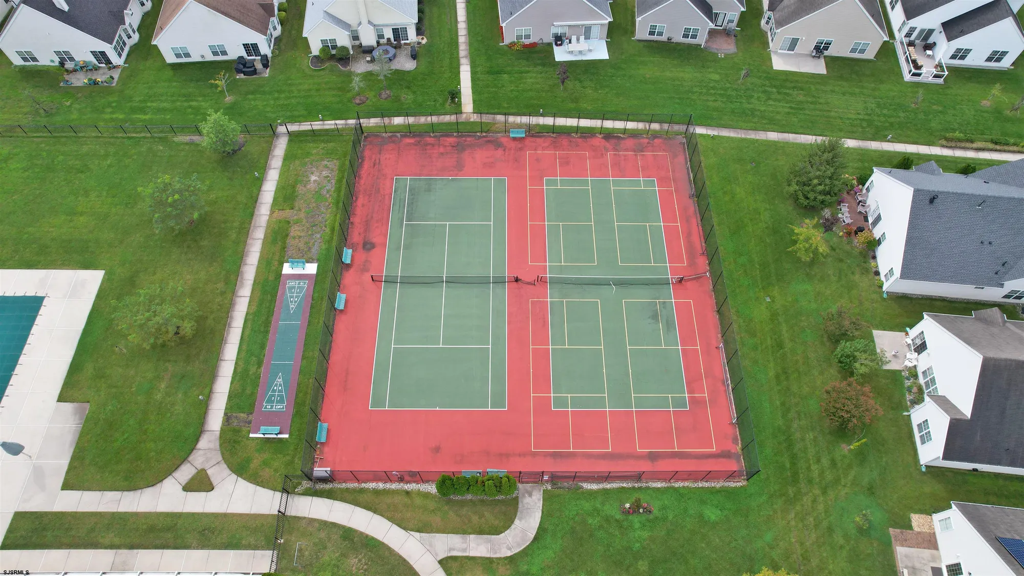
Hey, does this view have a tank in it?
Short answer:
No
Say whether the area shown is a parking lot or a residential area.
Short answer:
residential area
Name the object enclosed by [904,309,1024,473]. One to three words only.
house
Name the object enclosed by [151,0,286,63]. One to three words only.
house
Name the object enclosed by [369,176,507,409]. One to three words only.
tennis court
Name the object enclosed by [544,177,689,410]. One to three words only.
tennis court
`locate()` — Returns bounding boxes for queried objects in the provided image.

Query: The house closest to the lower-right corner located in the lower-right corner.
[931,499,1024,576]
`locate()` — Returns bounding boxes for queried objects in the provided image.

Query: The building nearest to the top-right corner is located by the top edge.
[888,0,1024,72]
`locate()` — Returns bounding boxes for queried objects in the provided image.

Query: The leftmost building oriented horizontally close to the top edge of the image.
[0,0,156,66]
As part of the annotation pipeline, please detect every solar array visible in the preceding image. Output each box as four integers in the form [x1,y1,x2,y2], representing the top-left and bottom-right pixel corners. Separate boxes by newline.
[999,540,1024,569]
